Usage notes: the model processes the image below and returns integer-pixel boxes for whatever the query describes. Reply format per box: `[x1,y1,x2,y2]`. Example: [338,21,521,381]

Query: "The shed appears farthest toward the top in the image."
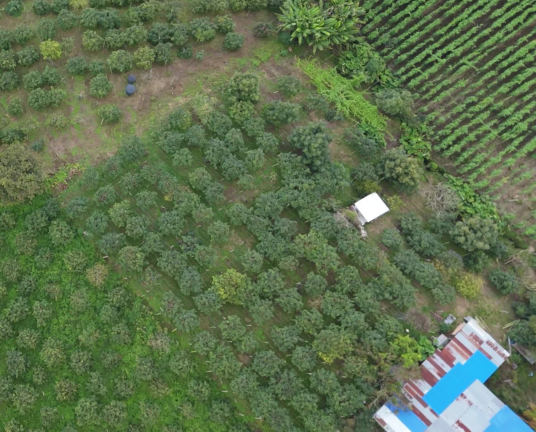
[349,192,389,226]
